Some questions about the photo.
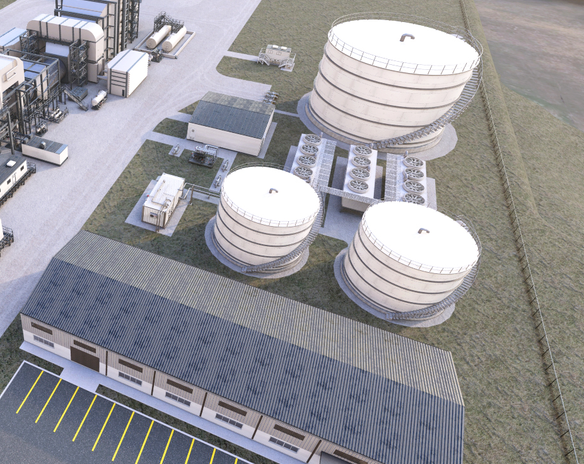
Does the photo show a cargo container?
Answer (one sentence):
Yes, a cargo container appears in the view.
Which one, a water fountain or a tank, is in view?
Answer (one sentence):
Of the two, only a tank appears.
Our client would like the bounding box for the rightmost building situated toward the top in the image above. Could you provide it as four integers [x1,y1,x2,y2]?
[265,47,291,65]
